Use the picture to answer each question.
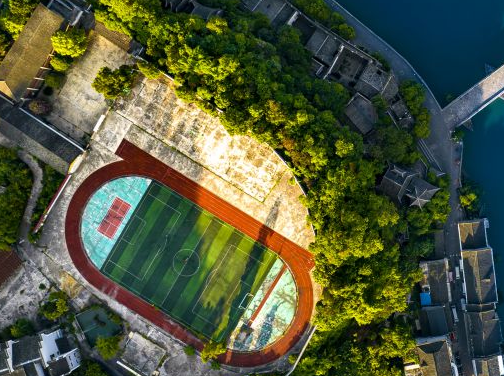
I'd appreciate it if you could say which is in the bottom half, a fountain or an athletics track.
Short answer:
athletics track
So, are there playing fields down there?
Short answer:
Yes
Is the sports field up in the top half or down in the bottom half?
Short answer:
bottom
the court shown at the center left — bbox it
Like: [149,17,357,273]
[98,196,131,239]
